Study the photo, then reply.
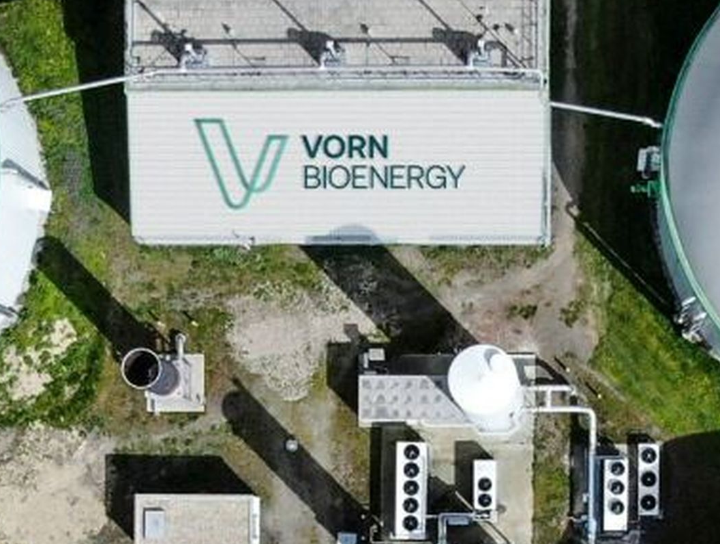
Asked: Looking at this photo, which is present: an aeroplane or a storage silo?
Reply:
storage silo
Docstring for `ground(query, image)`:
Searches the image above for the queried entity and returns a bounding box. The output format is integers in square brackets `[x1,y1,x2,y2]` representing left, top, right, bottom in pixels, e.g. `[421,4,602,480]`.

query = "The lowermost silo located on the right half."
[446,343,531,443]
